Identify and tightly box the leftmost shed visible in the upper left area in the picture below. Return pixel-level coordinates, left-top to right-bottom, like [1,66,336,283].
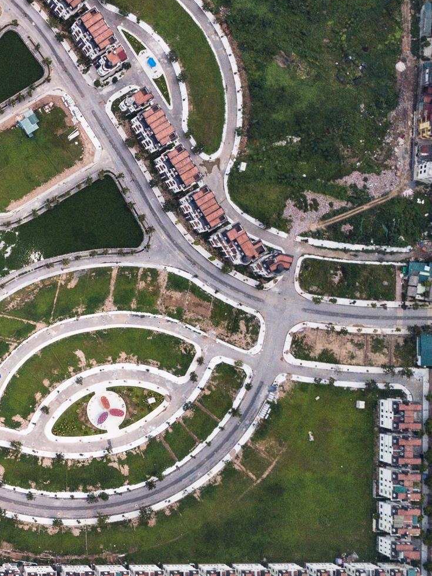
[18,109,39,137]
